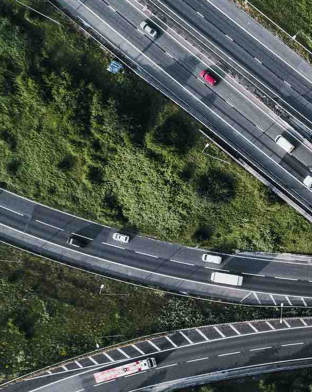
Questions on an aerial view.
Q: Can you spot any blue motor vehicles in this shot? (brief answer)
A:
No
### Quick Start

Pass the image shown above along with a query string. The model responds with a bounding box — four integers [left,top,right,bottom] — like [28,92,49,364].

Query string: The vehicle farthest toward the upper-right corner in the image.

[199,69,221,88]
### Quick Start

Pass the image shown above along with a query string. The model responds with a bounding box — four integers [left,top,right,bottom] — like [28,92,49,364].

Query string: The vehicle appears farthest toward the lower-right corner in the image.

[211,271,246,287]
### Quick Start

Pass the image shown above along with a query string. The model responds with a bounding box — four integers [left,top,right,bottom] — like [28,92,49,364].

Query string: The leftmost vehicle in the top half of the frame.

[138,21,160,40]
